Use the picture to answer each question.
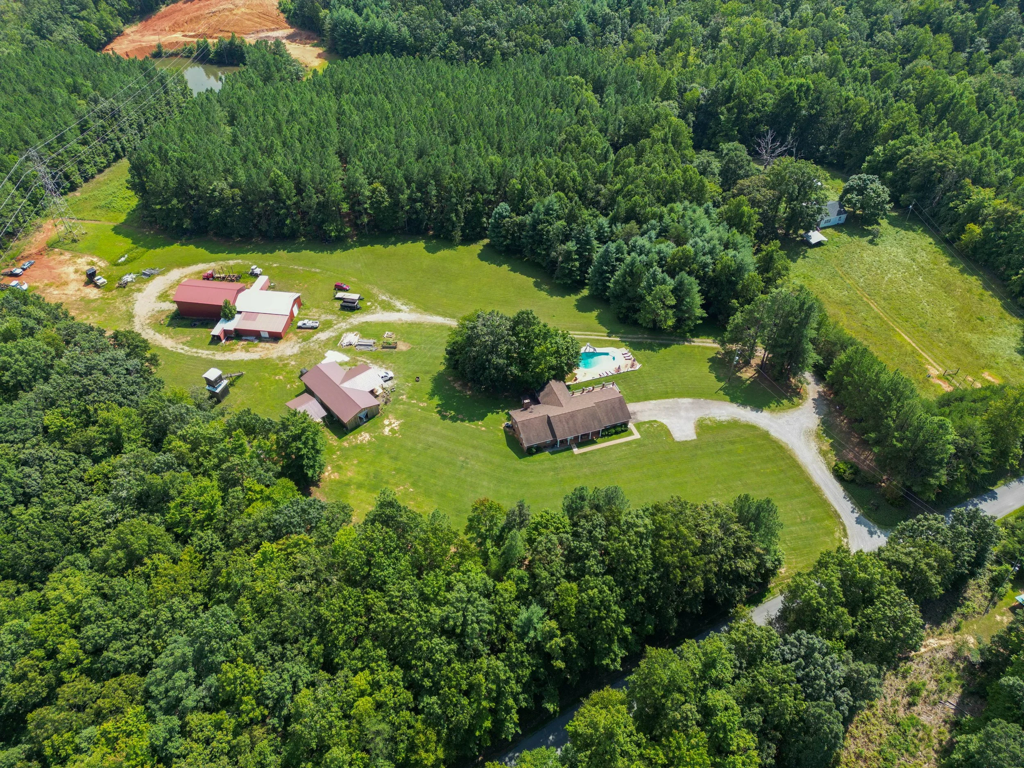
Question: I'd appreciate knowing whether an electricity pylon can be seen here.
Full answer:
Yes, looking at the shot, I can spot an electricity pylon.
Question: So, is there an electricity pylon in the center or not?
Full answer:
No, the scene shows no electricity pylon in the center.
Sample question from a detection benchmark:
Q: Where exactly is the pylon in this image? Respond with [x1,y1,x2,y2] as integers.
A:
[22,151,89,243]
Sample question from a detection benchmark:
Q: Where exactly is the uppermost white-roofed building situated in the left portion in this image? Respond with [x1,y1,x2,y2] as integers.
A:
[210,275,302,341]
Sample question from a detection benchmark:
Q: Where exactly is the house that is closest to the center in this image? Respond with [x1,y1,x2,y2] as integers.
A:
[509,379,632,455]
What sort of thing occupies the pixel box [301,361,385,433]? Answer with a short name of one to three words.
barn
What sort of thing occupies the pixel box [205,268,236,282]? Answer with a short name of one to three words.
vehicle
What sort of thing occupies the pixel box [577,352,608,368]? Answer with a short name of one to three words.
swimming pool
